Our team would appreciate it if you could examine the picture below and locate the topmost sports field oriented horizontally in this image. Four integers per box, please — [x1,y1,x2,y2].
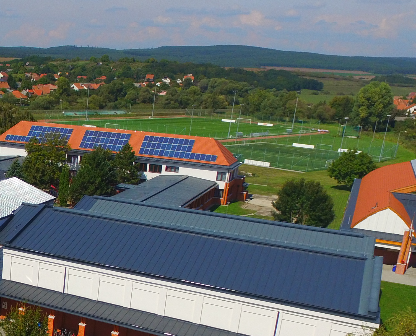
[37,120,308,136]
